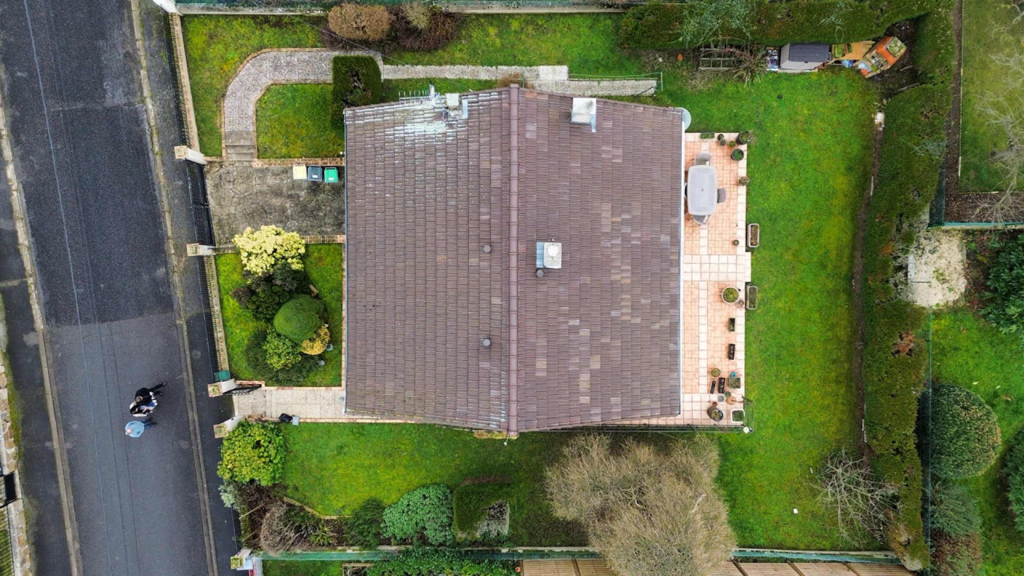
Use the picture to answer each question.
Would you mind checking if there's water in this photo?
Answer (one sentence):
No, there is no water in the image.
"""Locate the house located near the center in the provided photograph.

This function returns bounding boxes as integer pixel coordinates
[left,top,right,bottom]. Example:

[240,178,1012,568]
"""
[342,82,687,437]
